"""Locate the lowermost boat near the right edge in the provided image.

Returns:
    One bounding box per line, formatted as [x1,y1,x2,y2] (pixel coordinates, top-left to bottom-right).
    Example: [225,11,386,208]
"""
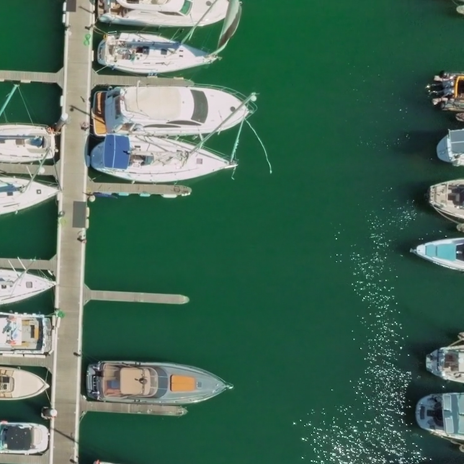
[411,394,464,442]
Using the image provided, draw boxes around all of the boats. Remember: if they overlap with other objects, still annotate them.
[91,79,262,137]
[0,310,49,355]
[431,128,464,165]
[422,181,464,219]
[0,264,57,306]
[412,241,464,271]
[0,420,48,455]
[411,394,464,442]
[94,0,247,76]
[83,364,240,406]
[422,76,464,110]
[0,85,55,166]
[87,112,269,185]
[93,0,233,28]
[421,348,464,385]
[0,159,60,215]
